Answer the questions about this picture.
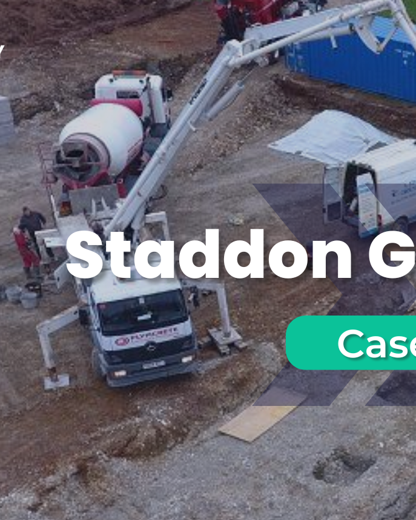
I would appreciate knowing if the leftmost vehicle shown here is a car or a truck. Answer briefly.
truck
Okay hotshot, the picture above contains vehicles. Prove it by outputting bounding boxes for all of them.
[27,66,195,214]
[30,0,416,385]
[200,0,313,40]
[322,138,416,245]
